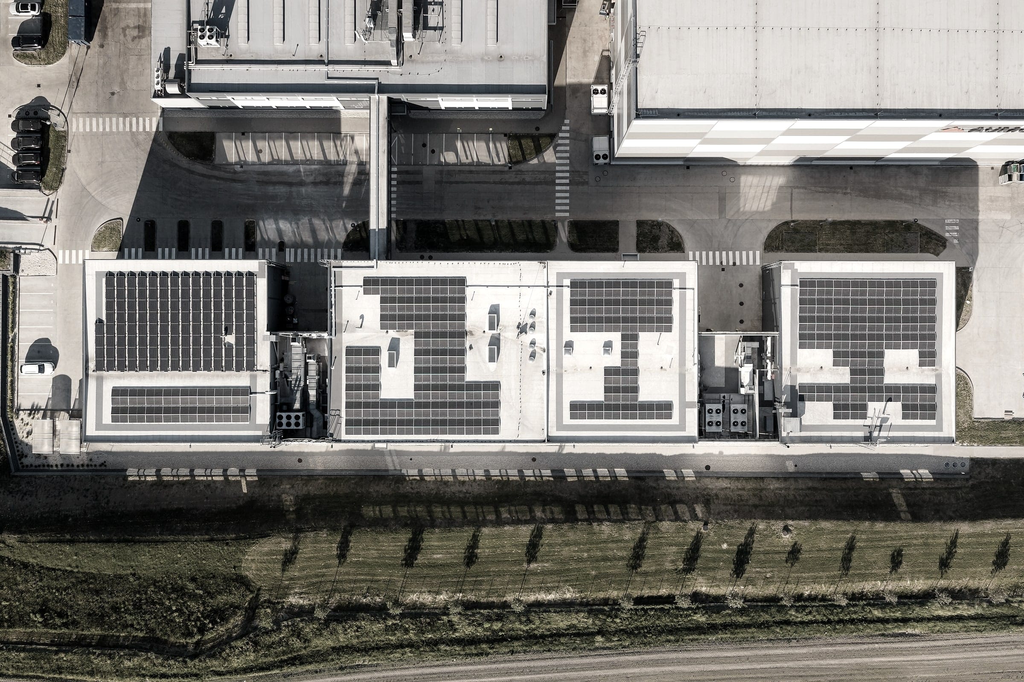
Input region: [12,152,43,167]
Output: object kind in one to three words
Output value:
car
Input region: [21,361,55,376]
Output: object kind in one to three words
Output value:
car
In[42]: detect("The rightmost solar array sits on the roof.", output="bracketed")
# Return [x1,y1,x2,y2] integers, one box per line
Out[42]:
[798,281,936,420]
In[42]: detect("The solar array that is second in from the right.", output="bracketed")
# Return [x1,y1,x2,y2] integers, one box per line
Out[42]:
[570,281,672,420]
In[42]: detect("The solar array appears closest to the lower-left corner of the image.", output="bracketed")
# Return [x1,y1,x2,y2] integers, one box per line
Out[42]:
[112,389,250,423]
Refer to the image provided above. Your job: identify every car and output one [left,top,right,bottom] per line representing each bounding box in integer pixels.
[12,169,44,185]
[12,118,44,134]
[21,361,55,376]
[10,0,42,17]
[12,152,43,167]
[12,135,44,151]
[12,35,44,51]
